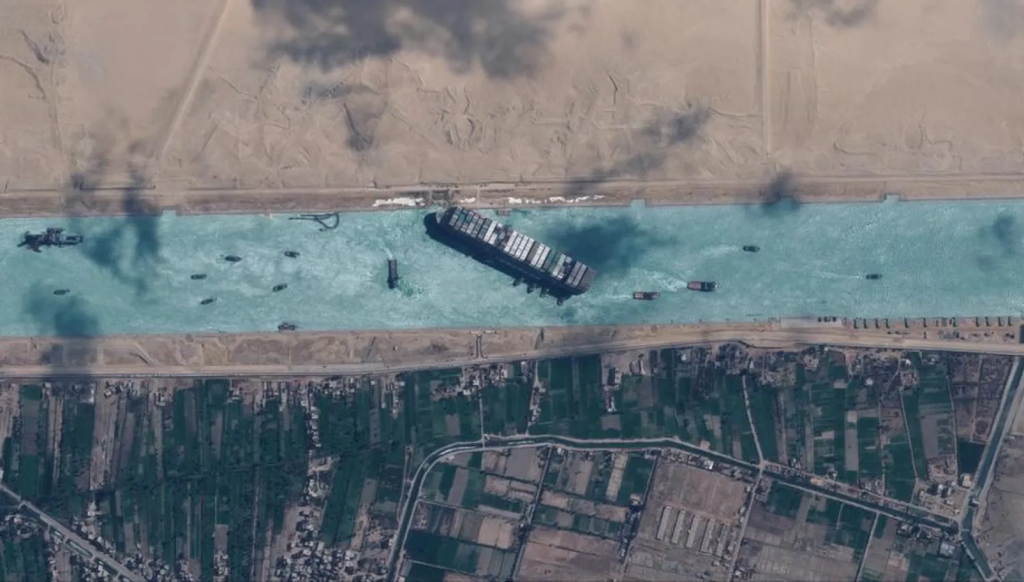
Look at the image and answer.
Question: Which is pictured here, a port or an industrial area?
port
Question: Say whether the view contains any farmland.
Yes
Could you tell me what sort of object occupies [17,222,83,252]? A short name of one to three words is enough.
ship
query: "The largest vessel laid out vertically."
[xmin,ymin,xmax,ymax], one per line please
[389,257,401,287]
